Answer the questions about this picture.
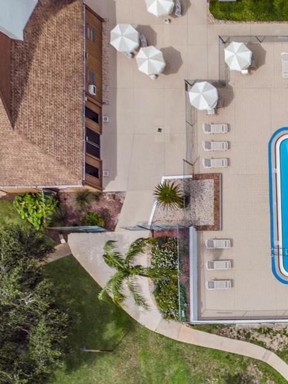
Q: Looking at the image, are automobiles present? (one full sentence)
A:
No, there's no automobile here.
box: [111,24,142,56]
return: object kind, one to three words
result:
umbrella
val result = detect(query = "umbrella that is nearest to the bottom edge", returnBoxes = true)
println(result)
[189,82,219,112]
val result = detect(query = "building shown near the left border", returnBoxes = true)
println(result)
[0,0,103,193]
